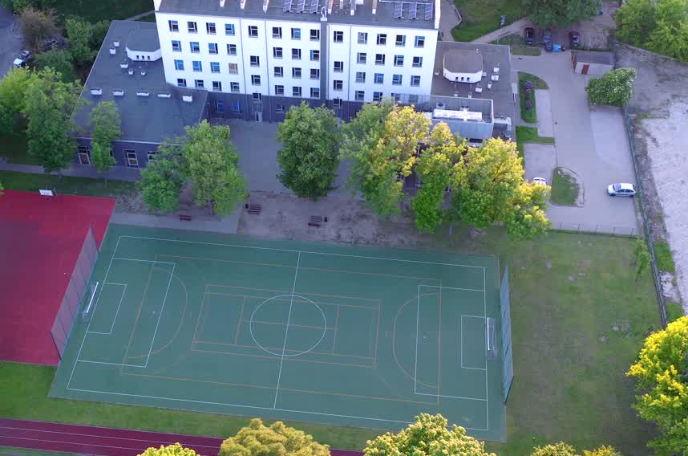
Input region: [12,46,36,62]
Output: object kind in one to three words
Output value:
car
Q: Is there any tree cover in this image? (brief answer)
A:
Yes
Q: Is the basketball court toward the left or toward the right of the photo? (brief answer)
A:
left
